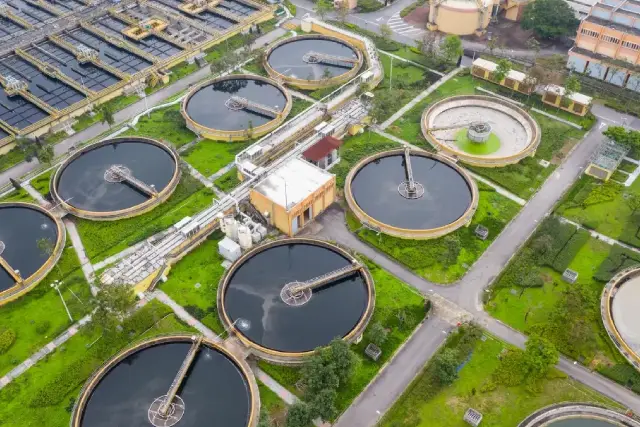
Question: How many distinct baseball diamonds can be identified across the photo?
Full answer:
There are no baseball diamonds in this view.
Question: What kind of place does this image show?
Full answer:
This image shows an industrial area.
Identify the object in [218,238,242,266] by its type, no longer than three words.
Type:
building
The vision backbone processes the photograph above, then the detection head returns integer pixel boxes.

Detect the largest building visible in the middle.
[249,154,338,234]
